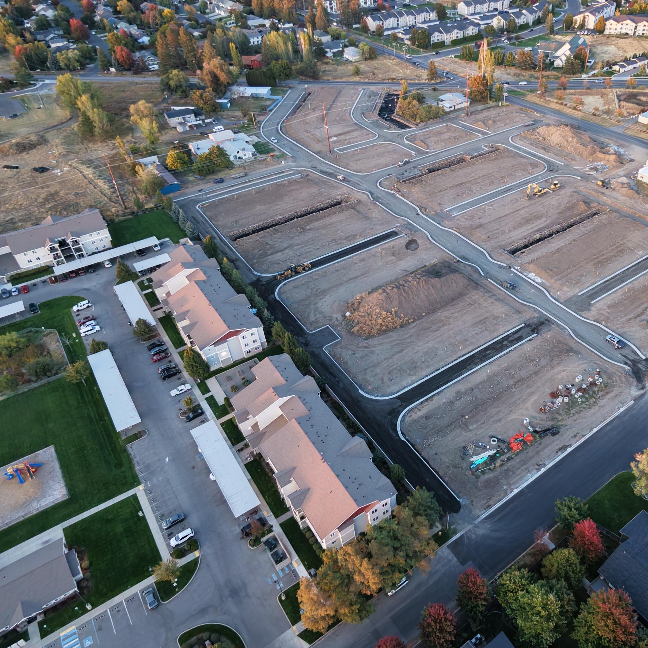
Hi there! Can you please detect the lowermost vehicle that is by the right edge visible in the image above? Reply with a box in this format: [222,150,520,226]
[605,334,627,347]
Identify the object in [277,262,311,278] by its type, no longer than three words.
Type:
work vehicle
